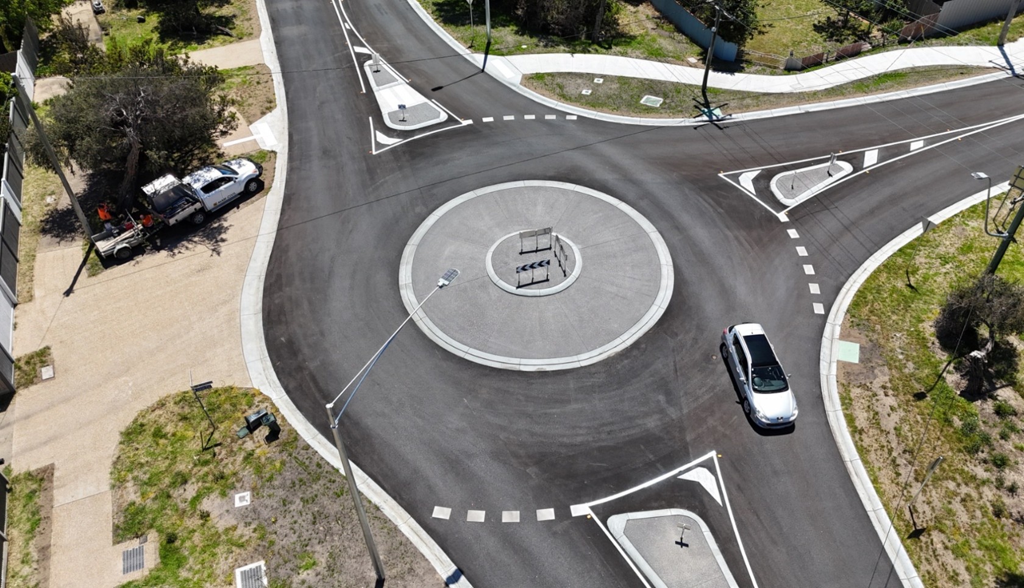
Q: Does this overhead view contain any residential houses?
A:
No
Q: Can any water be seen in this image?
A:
No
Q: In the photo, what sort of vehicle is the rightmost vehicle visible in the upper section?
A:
truck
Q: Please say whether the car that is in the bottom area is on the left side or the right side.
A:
right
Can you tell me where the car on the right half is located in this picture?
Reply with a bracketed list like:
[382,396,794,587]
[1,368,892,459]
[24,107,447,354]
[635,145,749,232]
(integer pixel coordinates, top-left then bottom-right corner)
[720,326,800,434]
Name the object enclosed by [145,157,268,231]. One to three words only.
truck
